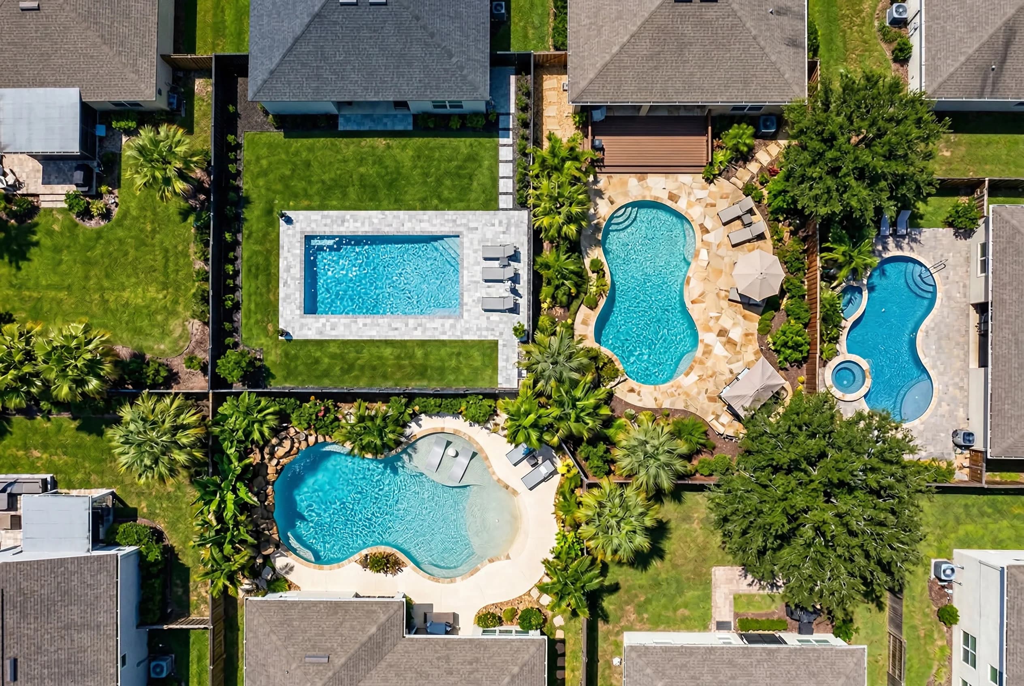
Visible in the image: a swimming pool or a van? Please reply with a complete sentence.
The image shows a swimming pool.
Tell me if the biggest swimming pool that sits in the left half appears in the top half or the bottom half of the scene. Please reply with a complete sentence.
Seen from above, the biggest swimming pool that sits in the left half lies in the bottom half of the view.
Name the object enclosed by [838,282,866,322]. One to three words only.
swimming pool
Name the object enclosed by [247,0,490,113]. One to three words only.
house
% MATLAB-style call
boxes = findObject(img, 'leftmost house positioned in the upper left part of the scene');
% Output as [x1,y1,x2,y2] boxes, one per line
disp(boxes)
[0,0,173,110]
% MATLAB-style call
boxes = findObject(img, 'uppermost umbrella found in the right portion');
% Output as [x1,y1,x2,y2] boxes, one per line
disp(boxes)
[729,248,785,303]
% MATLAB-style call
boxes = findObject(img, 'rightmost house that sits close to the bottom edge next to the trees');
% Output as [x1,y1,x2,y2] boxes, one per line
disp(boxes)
[954,550,1024,686]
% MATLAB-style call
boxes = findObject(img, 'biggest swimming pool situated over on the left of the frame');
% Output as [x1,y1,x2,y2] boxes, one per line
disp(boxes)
[274,429,521,583]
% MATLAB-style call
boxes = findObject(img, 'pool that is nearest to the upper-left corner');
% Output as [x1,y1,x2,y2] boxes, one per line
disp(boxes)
[300,231,464,318]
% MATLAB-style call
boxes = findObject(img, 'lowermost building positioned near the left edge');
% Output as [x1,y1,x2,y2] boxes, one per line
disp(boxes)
[0,547,139,686]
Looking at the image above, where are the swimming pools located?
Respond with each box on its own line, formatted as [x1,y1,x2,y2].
[274,429,521,583]
[300,231,464,318]
[838,282,866,322]
[590,195,704,390]
[842,251,942,428]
